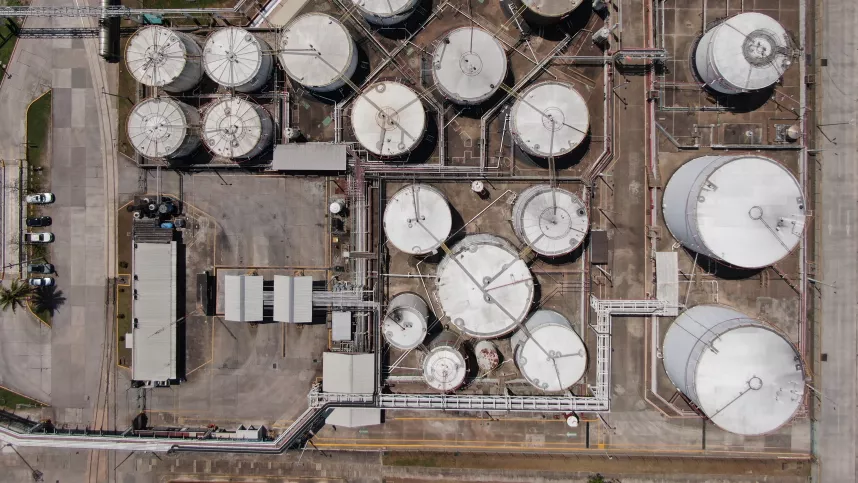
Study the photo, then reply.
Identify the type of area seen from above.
industrial area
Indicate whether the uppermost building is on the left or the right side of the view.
left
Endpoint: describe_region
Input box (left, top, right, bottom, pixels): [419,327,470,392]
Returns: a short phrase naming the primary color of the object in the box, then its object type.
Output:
white storage tank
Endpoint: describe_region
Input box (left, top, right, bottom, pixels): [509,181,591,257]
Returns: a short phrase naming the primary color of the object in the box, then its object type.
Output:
white storage tank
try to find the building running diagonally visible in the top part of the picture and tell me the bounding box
[268,0,320,31]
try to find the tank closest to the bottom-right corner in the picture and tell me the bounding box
[658,299,809,438]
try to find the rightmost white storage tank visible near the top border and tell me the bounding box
[690,10,798,99]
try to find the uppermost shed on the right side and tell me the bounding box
[589,231,607,264]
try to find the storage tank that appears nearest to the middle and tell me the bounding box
[383,180,457,254]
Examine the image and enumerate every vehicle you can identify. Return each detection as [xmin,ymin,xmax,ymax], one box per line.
[27,262,57,275]
[27,192,57,205]
[24,231,57,244]
[28,276,57,288]
[26,216,54,227]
